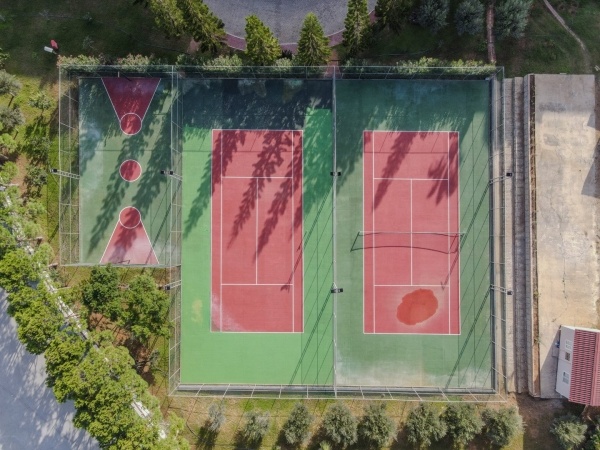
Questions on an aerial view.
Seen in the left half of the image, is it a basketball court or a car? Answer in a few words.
basketball court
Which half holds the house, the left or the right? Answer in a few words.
right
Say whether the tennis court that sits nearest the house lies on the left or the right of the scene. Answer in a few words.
right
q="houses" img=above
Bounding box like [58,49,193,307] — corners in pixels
[556,325,600,405]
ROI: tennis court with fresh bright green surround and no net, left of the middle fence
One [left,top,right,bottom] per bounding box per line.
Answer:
[182,79,333,384]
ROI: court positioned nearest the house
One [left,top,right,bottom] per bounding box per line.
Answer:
[333,79,490,384]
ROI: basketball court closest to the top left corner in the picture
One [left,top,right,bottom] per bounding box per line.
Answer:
[79,79,182,263]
